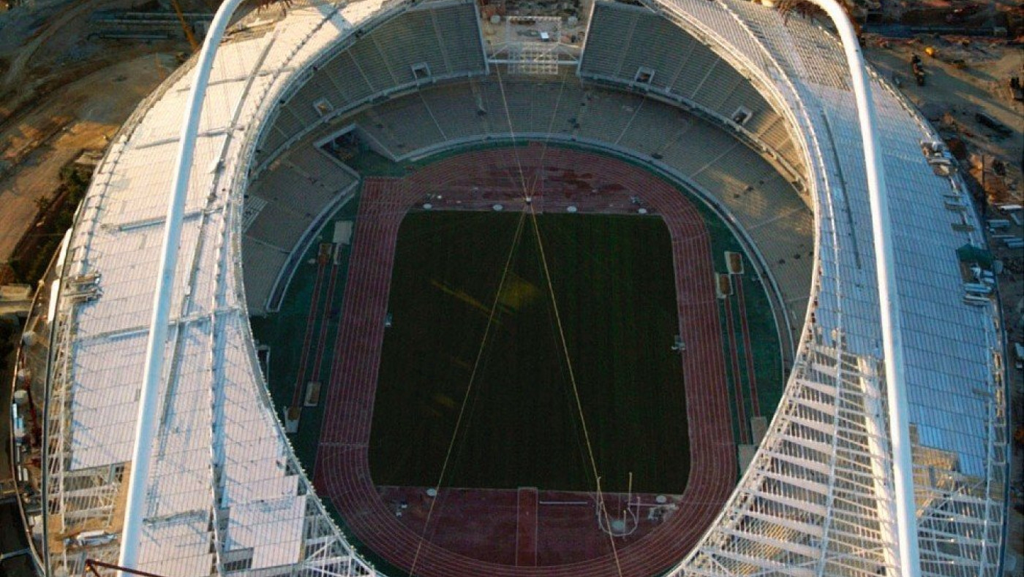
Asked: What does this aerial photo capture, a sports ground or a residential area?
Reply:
sports ground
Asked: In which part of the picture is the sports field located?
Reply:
center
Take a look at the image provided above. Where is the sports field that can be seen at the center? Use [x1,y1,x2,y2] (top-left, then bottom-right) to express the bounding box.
[368,210,690,490]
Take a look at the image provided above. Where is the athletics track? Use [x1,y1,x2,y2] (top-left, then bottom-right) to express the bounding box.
[313,146,736,577]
